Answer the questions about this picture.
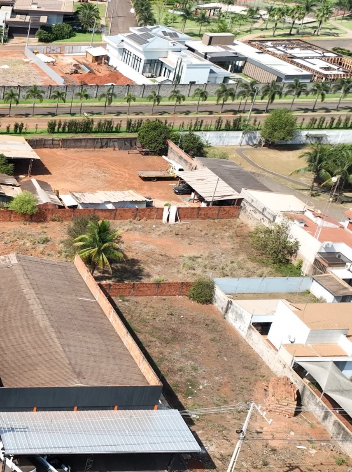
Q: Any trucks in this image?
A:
Yes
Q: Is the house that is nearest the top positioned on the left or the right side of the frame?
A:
left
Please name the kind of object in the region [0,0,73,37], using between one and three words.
house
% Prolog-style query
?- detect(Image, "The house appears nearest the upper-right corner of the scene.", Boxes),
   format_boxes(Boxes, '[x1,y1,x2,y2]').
[185,34,313,94]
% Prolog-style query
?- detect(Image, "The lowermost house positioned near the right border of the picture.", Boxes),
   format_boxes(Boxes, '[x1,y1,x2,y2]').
[236,296,352,433]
